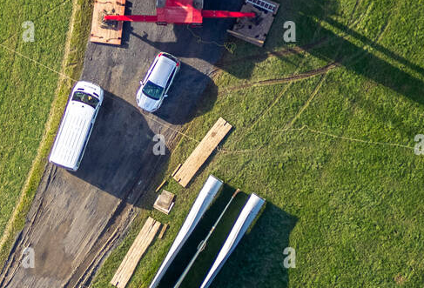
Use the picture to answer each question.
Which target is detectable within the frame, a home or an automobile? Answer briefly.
automobile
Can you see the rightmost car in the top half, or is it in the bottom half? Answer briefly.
top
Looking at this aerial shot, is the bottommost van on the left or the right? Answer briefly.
left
